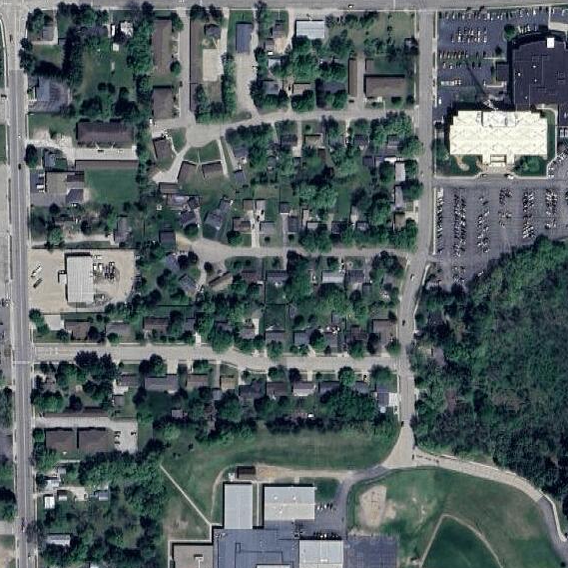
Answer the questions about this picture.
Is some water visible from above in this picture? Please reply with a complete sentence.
No, water can't be seen anywhere here.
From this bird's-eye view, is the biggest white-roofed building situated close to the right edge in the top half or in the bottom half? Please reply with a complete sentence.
The biggest white-roofed building situated close to the right edge sits in the top half of the picture.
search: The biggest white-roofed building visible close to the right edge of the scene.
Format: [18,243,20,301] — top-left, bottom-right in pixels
[451,111,548,157]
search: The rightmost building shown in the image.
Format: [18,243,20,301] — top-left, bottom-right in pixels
[513,38,568,123]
